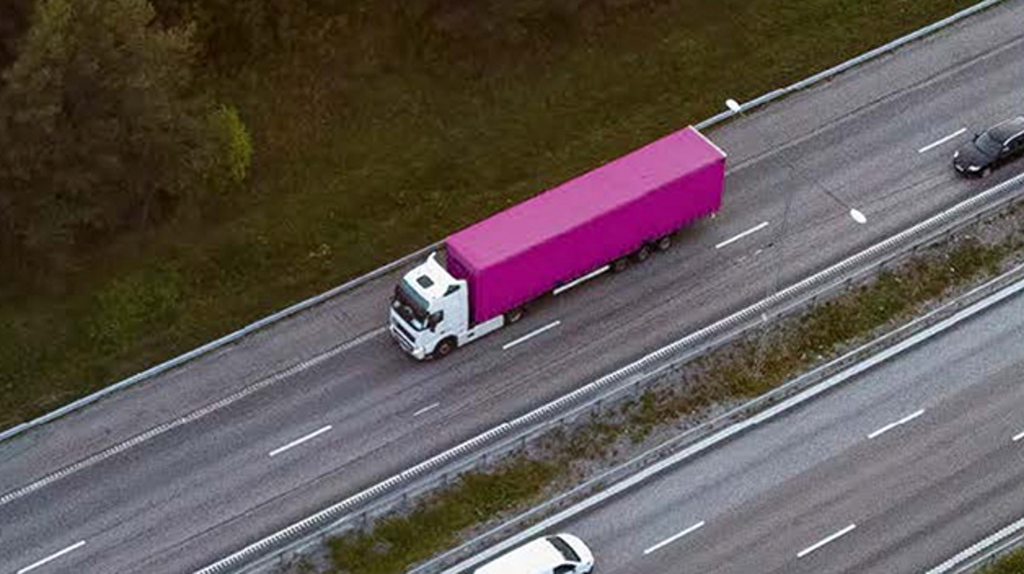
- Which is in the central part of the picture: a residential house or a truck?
truck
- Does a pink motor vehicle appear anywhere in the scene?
Yes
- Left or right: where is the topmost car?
right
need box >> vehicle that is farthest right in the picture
[948,115,1024,182]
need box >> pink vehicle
[387,128,728,356]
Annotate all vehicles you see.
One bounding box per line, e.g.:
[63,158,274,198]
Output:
[387,128,728,356]
[478,536,592,574]
[948,115,1024,182]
